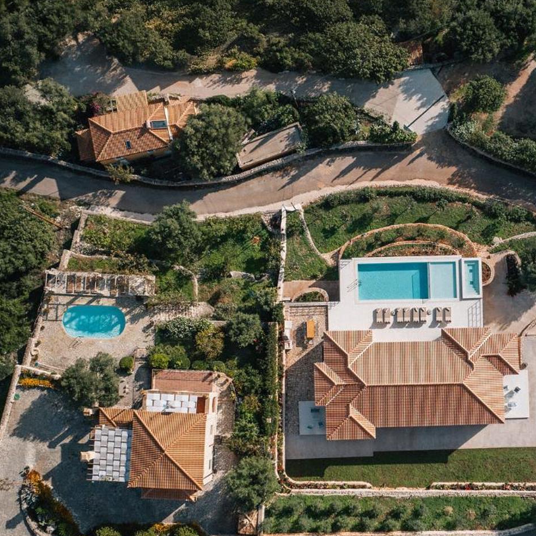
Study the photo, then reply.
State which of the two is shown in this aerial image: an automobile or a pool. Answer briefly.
pool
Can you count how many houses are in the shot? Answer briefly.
3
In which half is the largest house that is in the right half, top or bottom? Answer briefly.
bottom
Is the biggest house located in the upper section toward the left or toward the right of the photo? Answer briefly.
left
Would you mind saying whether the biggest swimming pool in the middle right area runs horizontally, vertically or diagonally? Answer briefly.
horizontally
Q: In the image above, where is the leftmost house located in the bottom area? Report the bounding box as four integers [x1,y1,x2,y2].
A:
[78,368,238,502]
